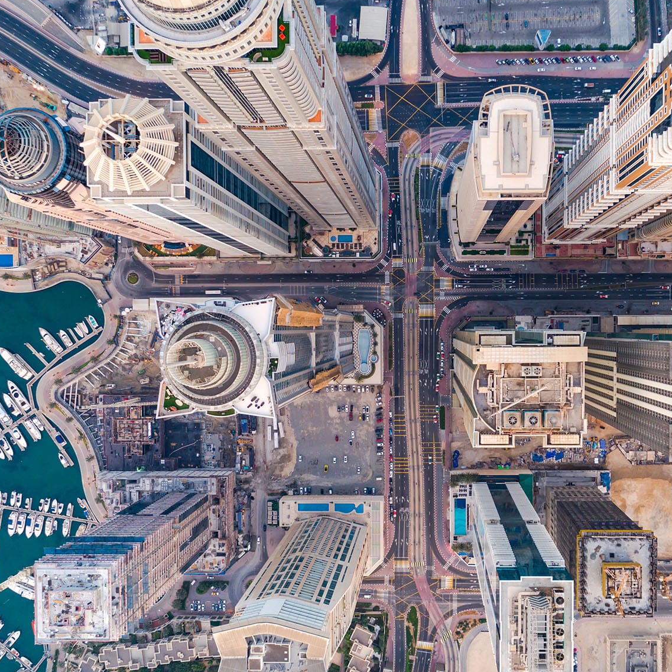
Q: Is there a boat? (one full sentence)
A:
Yes, you can see a boat in this photo.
